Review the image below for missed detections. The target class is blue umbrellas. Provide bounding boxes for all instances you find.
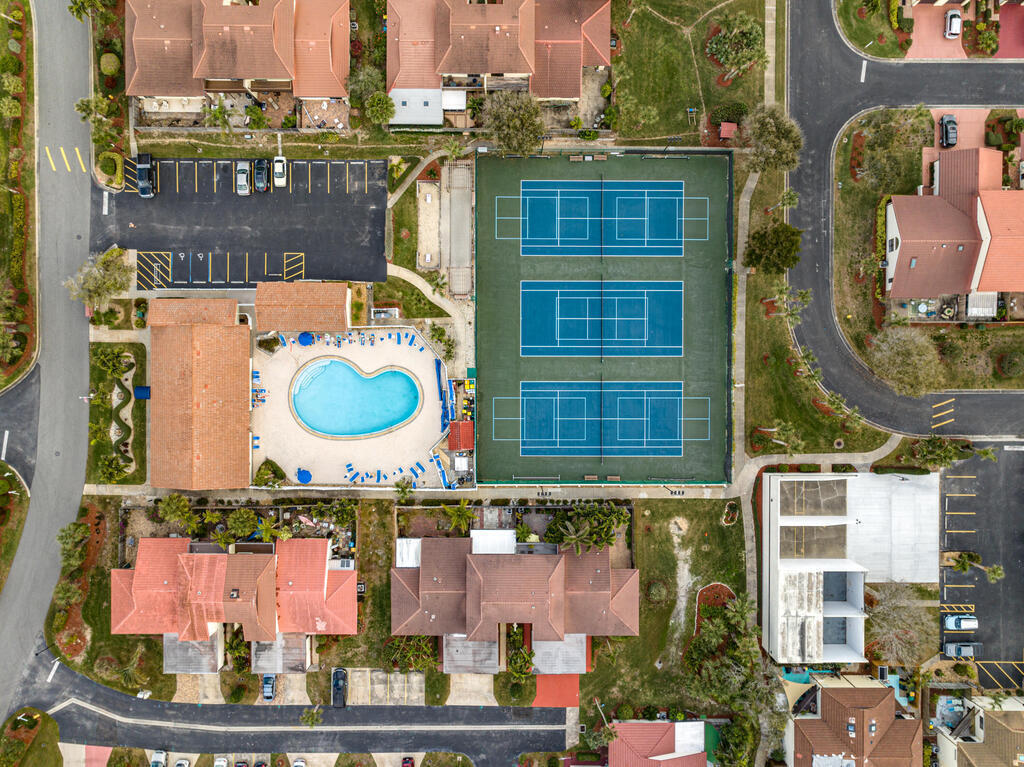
[298,469,312,483]
[299,332,313,346]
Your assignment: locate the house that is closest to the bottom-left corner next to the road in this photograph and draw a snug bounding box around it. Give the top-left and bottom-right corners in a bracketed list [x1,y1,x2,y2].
[111,537,358,674]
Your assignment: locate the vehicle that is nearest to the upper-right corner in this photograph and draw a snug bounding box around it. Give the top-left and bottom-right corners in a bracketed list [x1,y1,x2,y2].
[942,10,961,41]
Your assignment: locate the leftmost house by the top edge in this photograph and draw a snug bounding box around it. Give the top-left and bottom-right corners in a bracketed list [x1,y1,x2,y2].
[126,0,350,101]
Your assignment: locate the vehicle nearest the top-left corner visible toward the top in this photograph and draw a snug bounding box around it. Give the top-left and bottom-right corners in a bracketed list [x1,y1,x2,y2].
[136,156,155,198]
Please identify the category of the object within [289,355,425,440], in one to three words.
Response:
swimming pool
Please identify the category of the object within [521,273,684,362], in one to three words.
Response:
tennis court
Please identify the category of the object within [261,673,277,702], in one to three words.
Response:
car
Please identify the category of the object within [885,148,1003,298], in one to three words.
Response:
house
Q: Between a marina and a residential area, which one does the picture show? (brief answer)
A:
residential area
